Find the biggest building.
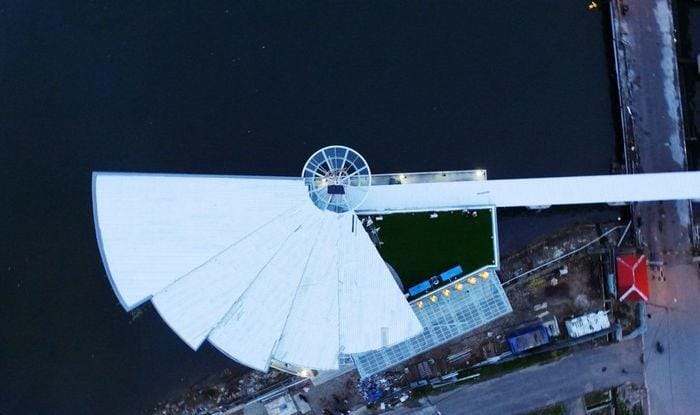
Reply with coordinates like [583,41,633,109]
[92,144,498,381]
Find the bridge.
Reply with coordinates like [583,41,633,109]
[608,0,700,246]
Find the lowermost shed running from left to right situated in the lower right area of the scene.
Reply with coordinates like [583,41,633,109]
[559,308,612,336]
